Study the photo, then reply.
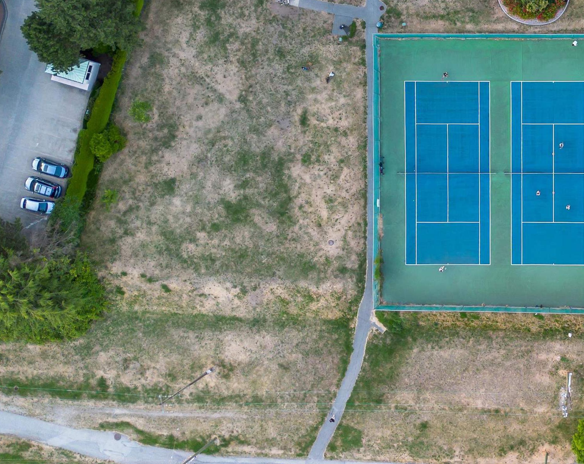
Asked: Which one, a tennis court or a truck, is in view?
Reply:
tennis court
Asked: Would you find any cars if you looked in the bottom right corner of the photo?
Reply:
No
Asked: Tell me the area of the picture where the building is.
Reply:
top left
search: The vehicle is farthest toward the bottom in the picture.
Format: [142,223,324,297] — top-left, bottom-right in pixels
[19,196,57,216]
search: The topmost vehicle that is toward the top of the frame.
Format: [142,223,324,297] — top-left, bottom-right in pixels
[32,157,72,178]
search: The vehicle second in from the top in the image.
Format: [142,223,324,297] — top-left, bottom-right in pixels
[25,176,66,198]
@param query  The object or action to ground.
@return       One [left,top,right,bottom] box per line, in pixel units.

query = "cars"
[19,196,57,216]
[32,157,72,178]
[25,176,66,198]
